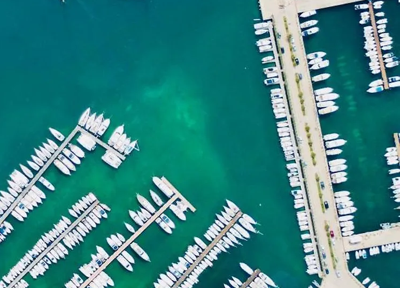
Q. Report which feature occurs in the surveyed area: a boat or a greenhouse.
boat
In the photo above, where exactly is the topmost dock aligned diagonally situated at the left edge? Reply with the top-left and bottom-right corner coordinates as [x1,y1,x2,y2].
[0,124,126,225]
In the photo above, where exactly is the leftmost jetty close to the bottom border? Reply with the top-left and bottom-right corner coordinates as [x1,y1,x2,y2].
[6,198,99,288]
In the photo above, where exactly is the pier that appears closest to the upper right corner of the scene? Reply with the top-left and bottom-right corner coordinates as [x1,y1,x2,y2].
[368,0,389,89]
